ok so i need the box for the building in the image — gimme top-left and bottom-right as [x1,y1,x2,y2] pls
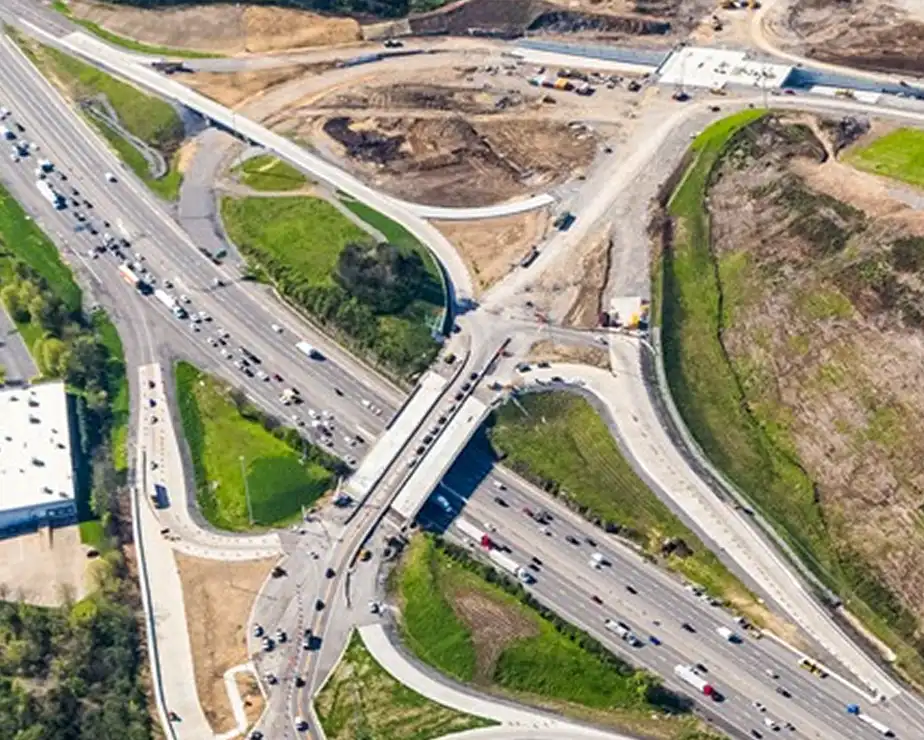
[0,382,78,522]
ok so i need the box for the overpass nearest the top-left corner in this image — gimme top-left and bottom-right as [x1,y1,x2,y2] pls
[59,30,489,326]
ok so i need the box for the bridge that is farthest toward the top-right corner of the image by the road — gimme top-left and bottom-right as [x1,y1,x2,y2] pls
[657,42,791,89]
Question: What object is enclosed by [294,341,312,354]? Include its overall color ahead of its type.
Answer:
white vehicle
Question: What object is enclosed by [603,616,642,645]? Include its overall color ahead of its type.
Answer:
white truck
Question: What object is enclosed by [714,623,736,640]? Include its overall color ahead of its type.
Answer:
white vehicle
